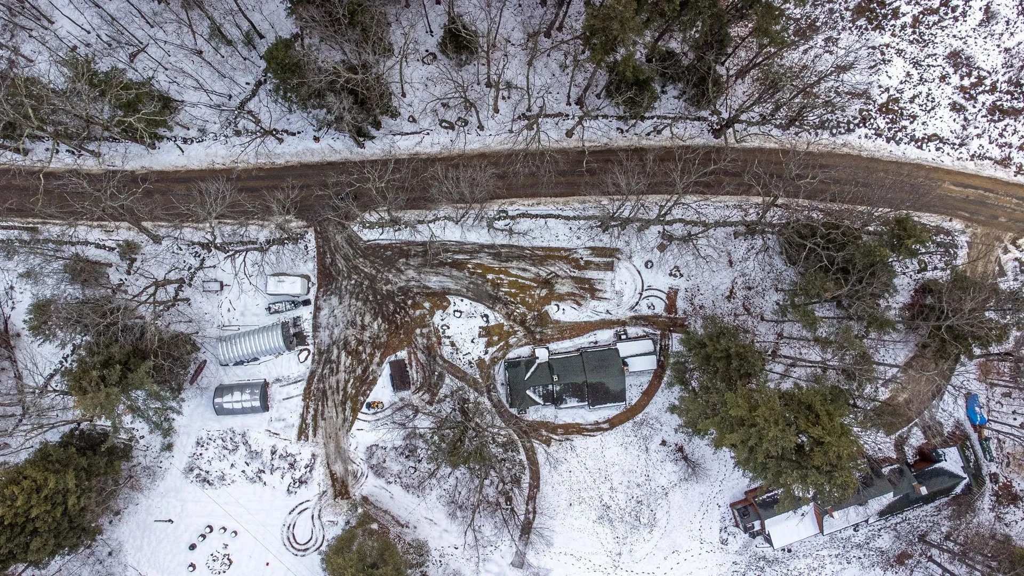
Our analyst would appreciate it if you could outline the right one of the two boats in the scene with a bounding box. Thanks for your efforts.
[262,300,301,315]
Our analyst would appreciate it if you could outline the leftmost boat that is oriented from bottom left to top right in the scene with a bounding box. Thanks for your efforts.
[190,361,206,384]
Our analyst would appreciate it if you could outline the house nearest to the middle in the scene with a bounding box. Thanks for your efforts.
[504,327,657,415]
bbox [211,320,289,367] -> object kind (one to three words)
shed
